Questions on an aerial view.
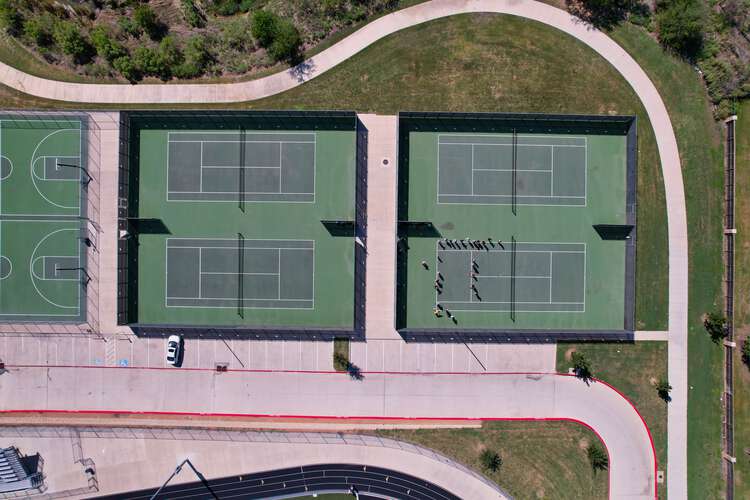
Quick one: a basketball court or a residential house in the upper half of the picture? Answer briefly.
basketball court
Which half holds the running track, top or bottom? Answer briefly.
bottom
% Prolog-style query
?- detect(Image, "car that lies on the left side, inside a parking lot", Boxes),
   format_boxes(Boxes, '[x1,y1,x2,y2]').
[163,335,179,366]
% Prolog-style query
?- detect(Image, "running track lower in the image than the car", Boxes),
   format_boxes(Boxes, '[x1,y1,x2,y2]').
[79,463,459,500]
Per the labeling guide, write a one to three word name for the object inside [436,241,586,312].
tennis court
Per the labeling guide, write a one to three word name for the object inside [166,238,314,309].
tennis court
